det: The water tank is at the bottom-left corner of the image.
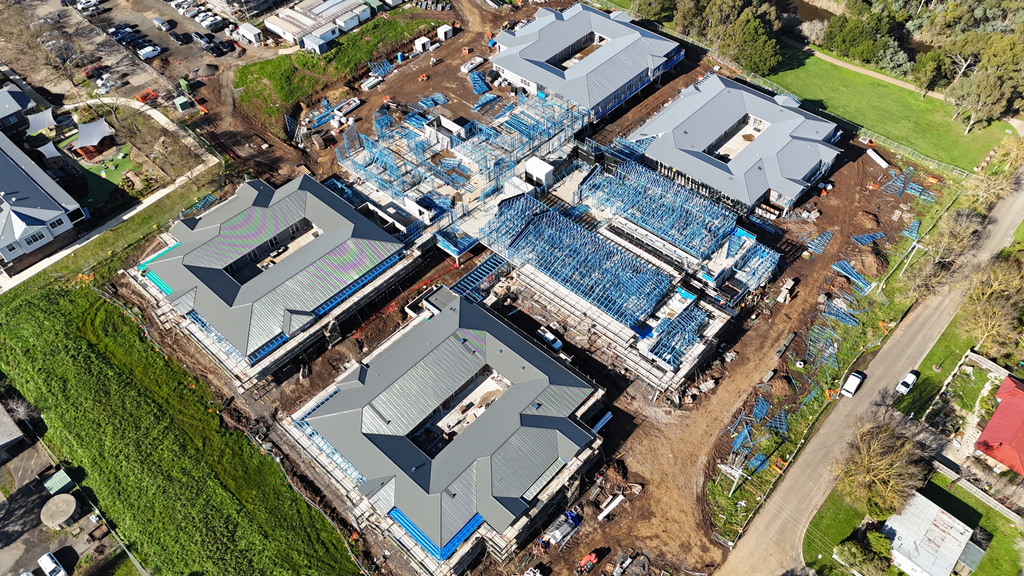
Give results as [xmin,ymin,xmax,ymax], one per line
[42,493,87,533]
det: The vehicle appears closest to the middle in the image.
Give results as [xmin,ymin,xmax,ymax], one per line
[533,325,565,353]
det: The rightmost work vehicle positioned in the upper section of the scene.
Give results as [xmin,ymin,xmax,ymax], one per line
[502,10,517,28]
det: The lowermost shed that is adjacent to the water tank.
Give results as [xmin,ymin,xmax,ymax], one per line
[41,468,77,496]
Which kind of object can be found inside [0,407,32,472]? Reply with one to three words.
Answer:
shed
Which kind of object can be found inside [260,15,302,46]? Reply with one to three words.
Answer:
building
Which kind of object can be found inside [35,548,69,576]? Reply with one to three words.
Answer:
car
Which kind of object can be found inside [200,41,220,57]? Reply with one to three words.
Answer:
vehicle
